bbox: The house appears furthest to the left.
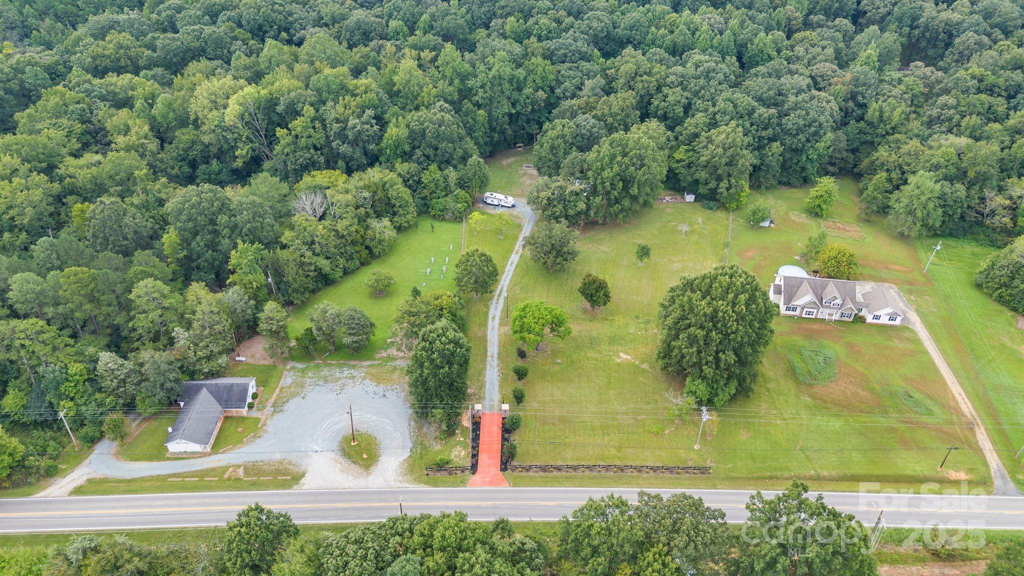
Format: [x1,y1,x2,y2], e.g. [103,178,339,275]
[161,376,260,451]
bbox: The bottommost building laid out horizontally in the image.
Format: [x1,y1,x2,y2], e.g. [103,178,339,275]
[764,275,906,326]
